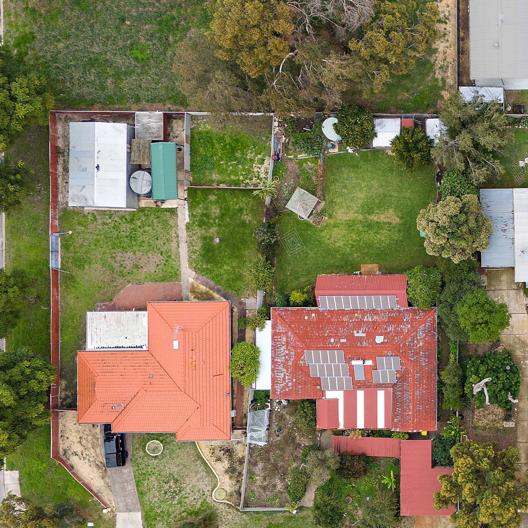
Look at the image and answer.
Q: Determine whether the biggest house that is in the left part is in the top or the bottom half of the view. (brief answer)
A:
bottom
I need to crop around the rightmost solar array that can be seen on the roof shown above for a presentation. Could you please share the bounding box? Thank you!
[372,356,400,383]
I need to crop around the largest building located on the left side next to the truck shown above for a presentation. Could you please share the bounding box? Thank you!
[76,300,235,442]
